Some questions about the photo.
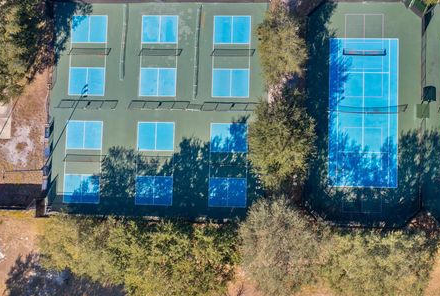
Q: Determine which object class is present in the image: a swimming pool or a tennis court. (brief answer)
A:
tennis court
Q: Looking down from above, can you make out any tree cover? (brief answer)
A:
Yes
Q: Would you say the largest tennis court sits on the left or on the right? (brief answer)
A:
right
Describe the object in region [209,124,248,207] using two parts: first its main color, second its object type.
blue sports court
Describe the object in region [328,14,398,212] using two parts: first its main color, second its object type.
blue tennis court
